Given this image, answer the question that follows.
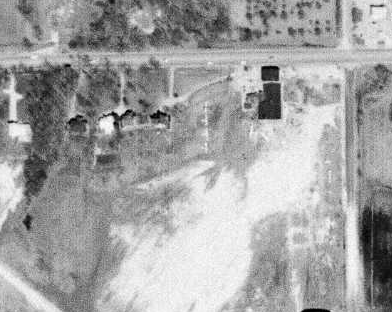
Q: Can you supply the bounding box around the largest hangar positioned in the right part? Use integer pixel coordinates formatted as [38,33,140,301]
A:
[259,81,282,119]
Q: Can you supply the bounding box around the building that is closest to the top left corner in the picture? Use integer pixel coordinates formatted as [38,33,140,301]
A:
[9,123,32,142]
